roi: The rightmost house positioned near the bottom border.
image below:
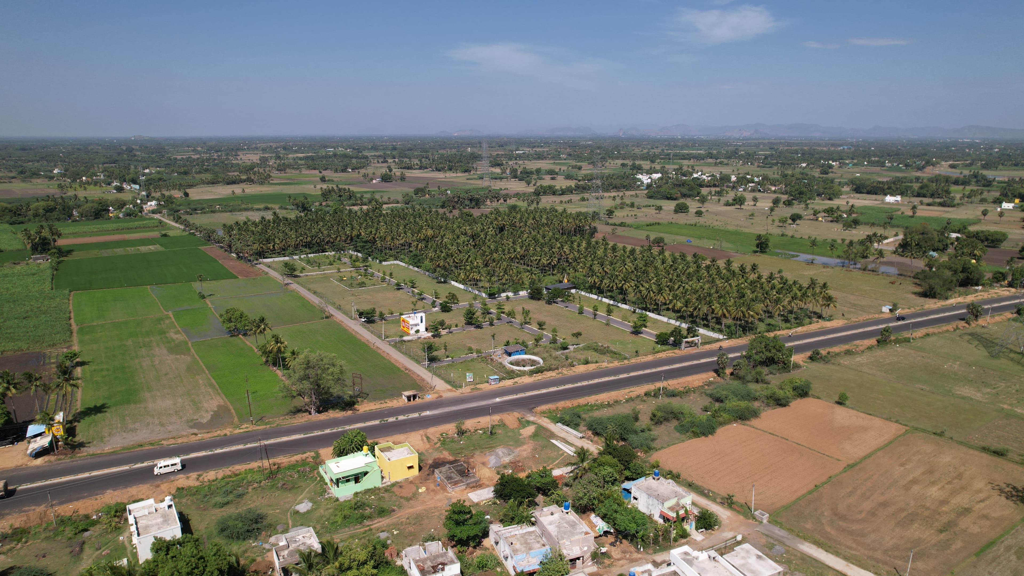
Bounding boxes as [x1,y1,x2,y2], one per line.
[724,546,785,576]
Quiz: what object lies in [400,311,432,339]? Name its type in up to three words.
house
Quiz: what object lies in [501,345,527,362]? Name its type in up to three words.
shed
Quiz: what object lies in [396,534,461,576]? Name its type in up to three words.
house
